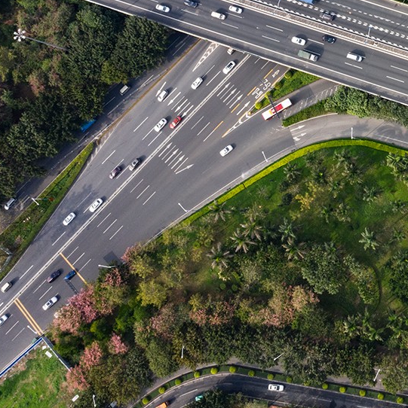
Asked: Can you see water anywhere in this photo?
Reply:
No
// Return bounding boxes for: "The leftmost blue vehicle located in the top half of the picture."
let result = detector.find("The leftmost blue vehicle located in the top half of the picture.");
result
[79,118,96,134]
